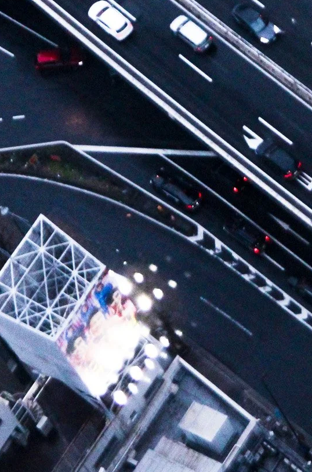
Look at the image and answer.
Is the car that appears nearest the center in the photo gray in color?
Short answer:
No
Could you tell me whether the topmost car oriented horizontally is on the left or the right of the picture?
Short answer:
left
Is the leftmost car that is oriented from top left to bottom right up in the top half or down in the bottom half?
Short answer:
top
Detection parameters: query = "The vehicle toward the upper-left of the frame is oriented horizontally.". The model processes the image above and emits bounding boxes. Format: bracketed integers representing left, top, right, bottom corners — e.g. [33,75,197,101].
[34,46,87,75]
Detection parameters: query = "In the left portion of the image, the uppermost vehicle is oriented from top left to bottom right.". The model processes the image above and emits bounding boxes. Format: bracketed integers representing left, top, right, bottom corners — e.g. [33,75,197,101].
[89,1,137,44]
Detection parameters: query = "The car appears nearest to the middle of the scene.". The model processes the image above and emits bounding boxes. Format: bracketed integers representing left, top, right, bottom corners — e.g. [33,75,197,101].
[153,169,203,213]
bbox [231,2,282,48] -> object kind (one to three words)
car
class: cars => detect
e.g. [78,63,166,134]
[153,169,203,213]
[231,2,282,48]
[34,46,87,75]
[206,158,255,201]
[222,215,273,260]
[255,140,303,182]
[89,1,137,44]
[167,14,217,57]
